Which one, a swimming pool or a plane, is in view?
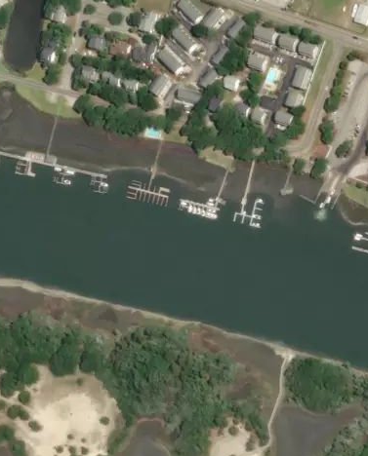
swimming pool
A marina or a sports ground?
marina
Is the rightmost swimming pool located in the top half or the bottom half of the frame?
top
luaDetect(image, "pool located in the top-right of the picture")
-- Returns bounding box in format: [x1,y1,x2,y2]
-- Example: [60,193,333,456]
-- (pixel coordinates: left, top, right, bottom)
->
[261,63,285,91]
